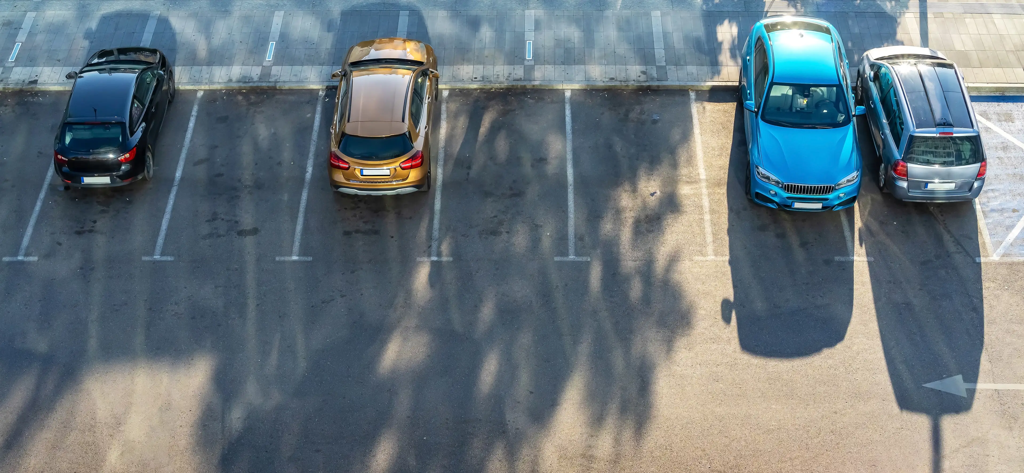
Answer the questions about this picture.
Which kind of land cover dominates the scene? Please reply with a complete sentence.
What you mostly see from above here is paved ground.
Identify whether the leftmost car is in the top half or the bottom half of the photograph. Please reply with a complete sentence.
The top half of the photo is where the leftmost car is.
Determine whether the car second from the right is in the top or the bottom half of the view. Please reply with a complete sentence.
It is in the top half that the car second from the right appears.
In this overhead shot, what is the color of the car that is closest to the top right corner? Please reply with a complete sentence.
In this view, the car that is closest to the top right corner is blue.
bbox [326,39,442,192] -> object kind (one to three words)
car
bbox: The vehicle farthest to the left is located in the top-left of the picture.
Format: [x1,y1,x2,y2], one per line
[53,47,174,193]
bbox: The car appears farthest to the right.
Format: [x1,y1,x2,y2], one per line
[743,16,866,212]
